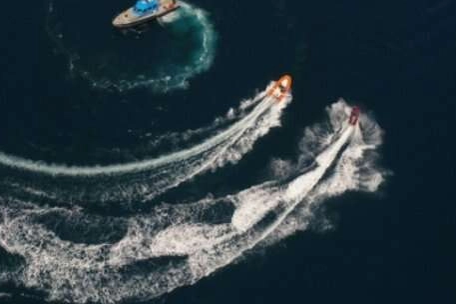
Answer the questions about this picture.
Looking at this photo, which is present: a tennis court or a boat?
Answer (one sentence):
This aerial view contains a boat.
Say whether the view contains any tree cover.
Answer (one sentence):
No, no tree cover is visible.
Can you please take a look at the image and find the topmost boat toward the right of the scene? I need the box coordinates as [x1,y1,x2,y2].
[267,73,290,100]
